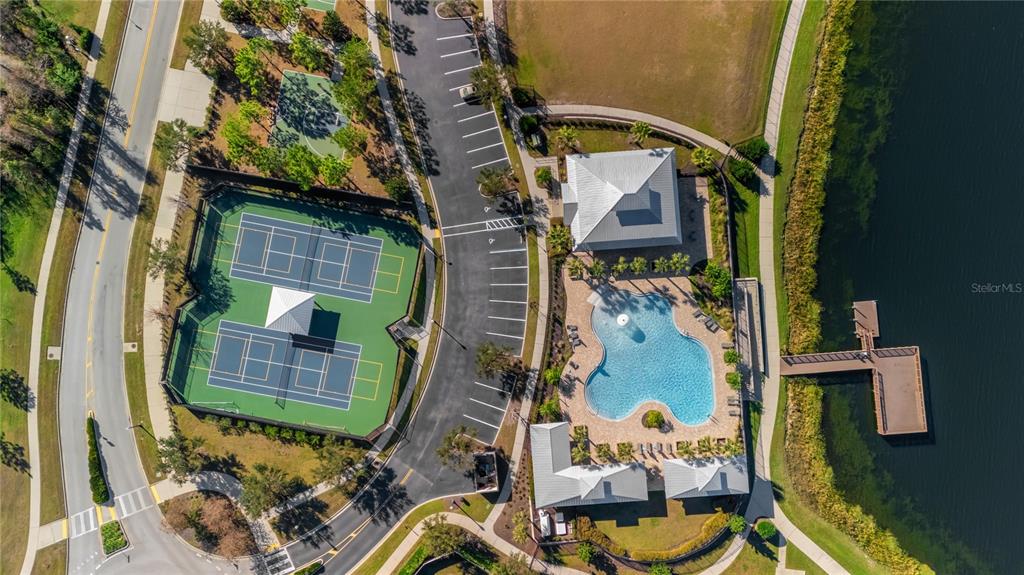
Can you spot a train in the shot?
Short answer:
No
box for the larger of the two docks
[780,346,930,436]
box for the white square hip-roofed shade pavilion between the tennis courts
[265,287,316,335]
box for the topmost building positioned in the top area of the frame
[562,147,682,251]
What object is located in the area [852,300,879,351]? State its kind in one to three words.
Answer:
pier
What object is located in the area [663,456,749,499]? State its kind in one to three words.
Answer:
building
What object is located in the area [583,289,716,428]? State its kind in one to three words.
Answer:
swimming pool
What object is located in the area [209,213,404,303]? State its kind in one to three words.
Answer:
tennis court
